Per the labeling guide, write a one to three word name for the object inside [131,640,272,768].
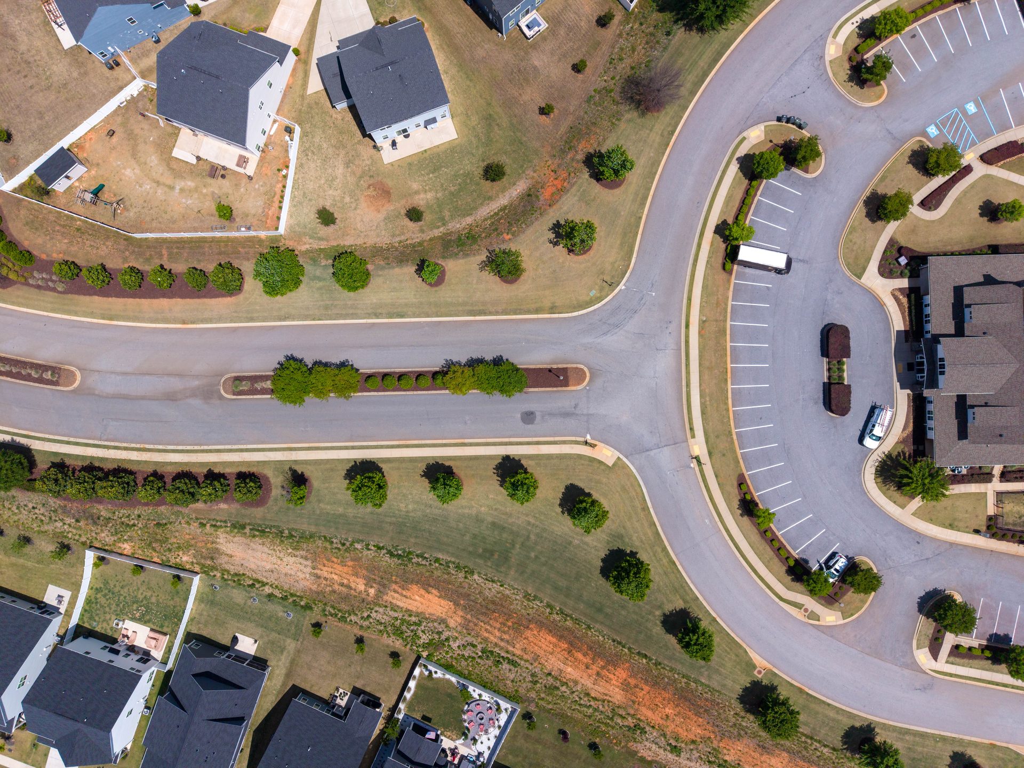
house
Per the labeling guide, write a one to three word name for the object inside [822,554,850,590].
car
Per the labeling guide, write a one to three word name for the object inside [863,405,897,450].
truck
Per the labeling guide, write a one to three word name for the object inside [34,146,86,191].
shed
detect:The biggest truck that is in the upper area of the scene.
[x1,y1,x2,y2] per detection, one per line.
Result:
[730,244,788,272]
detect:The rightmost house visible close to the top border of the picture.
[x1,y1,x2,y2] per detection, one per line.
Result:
[476,0,543,41]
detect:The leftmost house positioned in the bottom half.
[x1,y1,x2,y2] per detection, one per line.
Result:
[0,583,70,745]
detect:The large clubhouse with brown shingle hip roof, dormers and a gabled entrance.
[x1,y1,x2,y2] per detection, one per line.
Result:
[908,253,1024,466]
